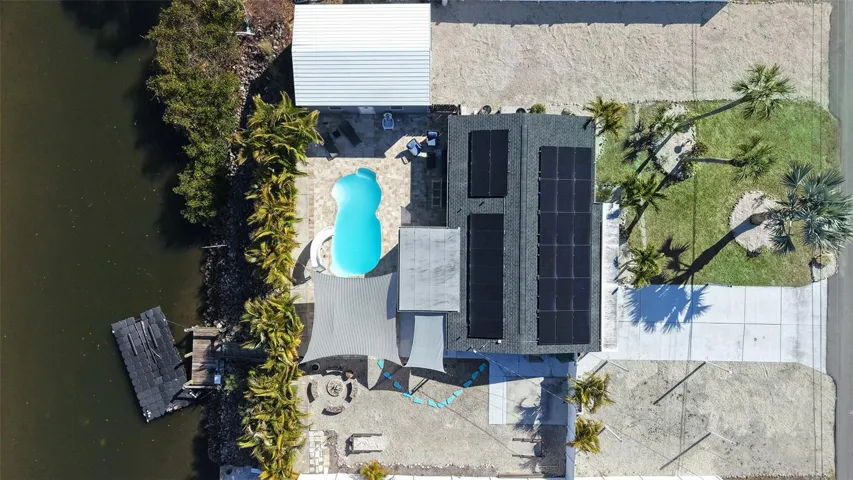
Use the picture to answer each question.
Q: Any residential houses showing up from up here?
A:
Yes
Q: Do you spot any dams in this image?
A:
No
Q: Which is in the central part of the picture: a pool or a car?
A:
pool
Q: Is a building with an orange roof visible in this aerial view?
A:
No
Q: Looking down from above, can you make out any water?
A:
Yes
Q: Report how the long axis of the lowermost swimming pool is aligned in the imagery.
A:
up and down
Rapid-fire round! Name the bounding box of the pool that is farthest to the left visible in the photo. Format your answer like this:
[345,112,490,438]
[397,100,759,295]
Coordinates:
[328,165,384,280]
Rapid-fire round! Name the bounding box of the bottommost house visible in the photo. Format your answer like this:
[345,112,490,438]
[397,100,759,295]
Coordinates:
[444,112,603,356]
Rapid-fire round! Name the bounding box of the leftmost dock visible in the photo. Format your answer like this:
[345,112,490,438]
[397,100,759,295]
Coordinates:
[113,306,197,421]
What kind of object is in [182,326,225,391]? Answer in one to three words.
pier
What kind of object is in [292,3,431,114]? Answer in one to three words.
building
